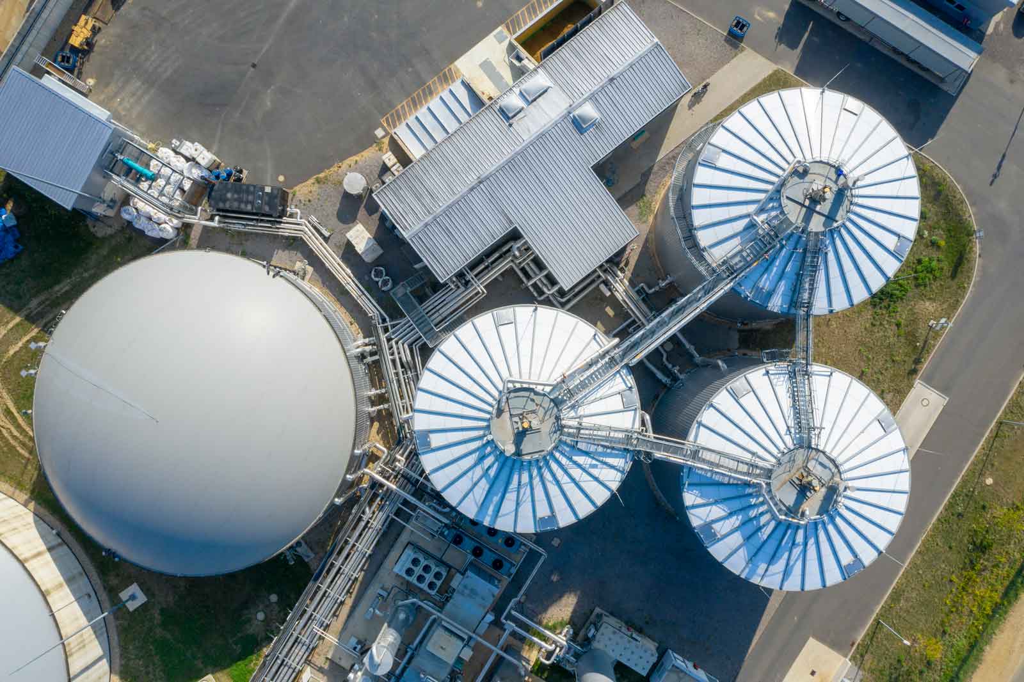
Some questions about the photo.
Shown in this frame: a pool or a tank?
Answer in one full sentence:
I can see a tank in this picture.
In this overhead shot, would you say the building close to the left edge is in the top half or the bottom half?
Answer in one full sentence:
It is in the top half that the building close to the left edge appears.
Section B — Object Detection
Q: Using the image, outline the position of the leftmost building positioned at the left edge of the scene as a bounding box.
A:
[0,65,149,216]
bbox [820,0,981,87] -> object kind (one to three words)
trailer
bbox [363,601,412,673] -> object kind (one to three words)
storage tank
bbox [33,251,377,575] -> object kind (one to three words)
storage tank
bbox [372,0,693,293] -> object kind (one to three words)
building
